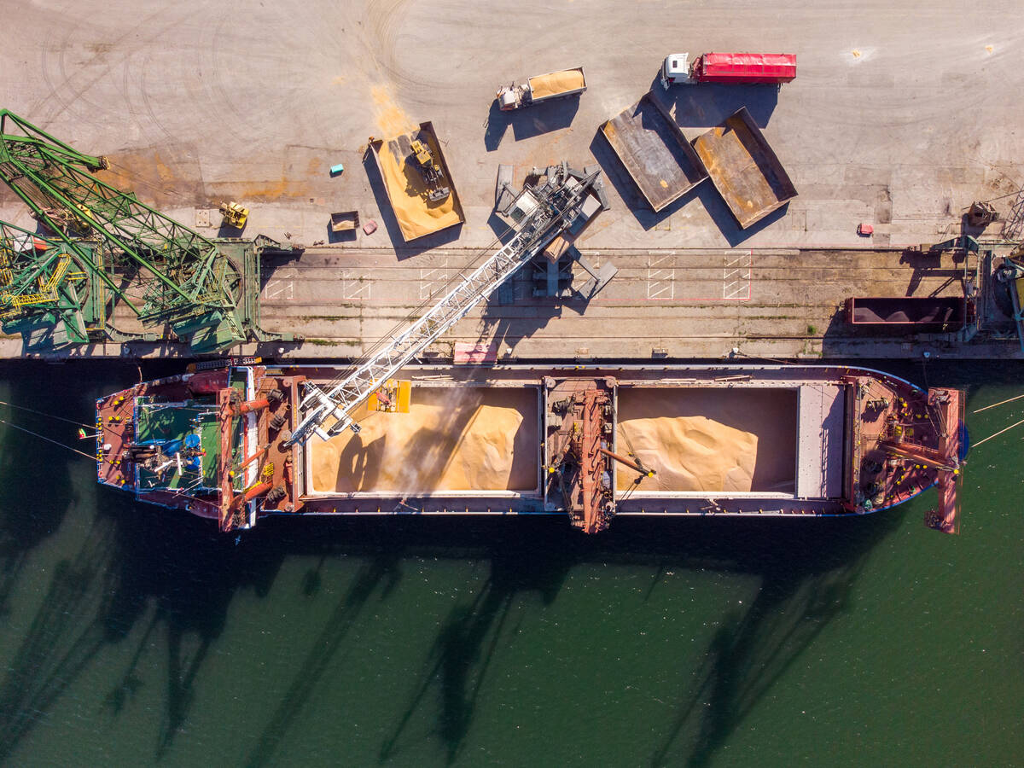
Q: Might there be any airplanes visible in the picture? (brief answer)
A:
No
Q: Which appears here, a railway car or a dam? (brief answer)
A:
railway car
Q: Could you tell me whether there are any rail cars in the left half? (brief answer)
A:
No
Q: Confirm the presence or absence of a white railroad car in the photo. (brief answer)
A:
No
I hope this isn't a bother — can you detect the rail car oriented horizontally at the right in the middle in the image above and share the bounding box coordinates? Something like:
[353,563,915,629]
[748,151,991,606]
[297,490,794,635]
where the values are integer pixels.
[837,297,969,326]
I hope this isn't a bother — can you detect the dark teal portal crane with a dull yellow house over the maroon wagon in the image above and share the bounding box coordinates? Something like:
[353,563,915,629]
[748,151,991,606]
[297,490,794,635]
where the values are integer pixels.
[897,197,1024,355]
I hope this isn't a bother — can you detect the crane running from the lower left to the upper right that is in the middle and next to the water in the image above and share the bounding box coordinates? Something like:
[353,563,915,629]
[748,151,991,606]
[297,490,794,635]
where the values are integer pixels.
[282,158,620,448]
